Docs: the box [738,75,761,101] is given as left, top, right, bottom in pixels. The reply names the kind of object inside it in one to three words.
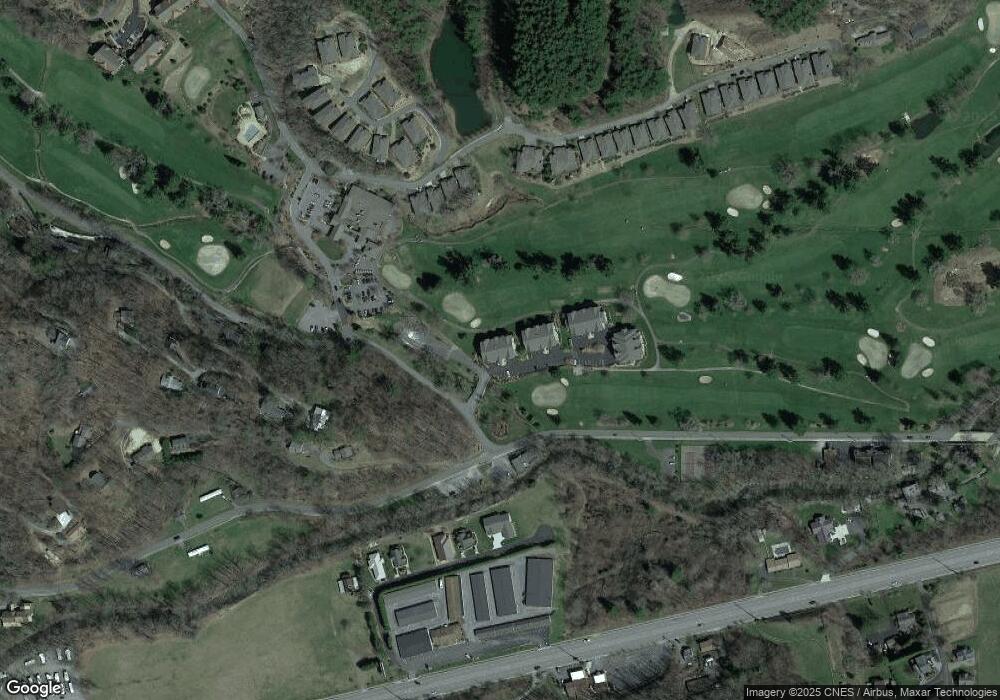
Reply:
house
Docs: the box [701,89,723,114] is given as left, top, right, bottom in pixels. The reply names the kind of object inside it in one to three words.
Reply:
house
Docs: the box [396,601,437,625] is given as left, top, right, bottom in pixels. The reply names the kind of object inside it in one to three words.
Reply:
building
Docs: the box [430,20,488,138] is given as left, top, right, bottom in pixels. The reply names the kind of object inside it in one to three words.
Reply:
pond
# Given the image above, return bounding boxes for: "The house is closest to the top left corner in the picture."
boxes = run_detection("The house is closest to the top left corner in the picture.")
[95,44,125,73]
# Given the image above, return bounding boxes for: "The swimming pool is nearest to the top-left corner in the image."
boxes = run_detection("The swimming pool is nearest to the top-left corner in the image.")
[237,102,268,147]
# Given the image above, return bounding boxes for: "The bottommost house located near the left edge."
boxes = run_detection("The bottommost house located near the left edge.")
[1,603,33,626]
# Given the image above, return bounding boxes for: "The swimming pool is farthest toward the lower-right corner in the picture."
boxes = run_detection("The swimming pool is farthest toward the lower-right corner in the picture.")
[771,542,791,557]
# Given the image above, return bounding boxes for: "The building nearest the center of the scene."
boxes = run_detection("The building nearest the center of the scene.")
[482,334,519,363]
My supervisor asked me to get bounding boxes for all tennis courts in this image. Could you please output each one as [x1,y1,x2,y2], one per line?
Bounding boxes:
[681,445,718,481]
